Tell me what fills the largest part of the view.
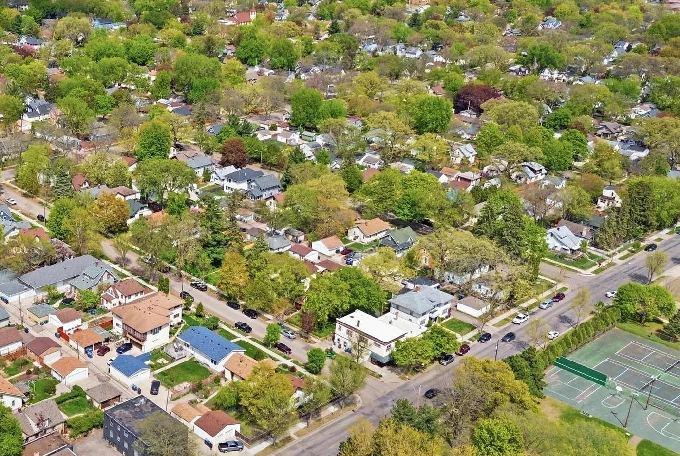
trees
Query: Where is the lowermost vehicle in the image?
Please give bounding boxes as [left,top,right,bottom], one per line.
[219,439,243,455]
